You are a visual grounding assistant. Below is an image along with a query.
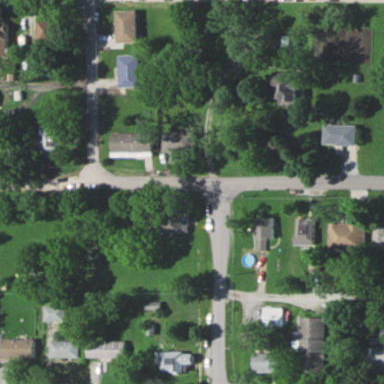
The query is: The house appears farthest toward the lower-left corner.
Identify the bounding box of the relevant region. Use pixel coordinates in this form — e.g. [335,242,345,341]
[0,339,34,358]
